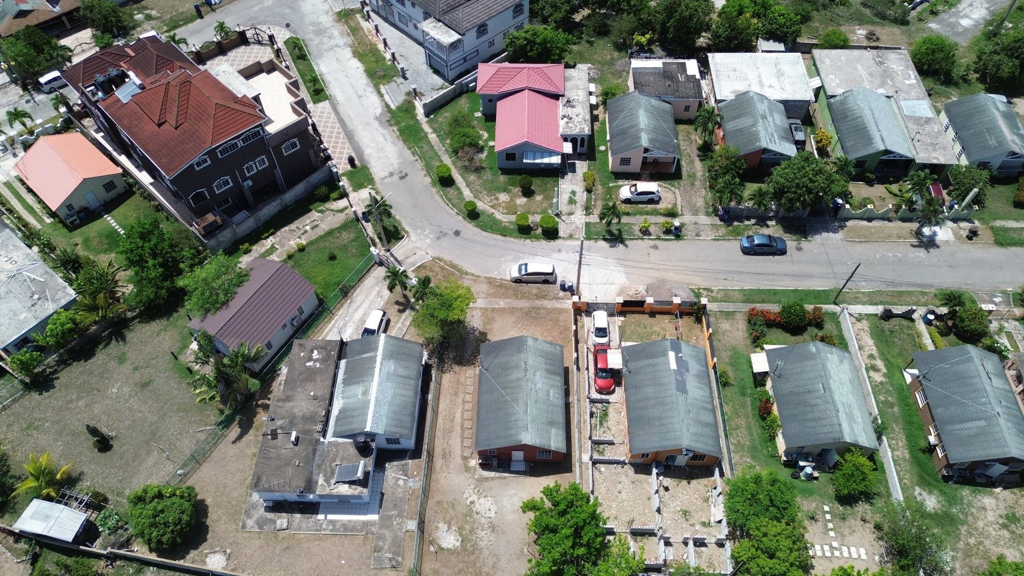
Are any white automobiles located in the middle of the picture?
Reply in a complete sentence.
Yes, a white automobile is visible in the middle of the picture.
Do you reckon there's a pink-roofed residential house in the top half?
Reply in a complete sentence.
Yes, in the top half there is a pink-roofed residential house.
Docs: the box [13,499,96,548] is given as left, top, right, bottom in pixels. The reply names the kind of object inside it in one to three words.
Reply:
shed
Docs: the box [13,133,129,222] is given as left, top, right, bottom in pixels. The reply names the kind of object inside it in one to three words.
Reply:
house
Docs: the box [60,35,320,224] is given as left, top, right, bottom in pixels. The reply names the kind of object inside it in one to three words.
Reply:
house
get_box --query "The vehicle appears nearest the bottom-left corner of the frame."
[357,304,390,339]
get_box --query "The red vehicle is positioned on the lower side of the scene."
[594,351,618,398]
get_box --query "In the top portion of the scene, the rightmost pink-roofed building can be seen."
[477,63,596,169]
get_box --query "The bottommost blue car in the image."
[741,236,790,258]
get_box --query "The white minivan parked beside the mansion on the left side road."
[30,68,69,97]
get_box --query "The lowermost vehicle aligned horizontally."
[509,264,557,286]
